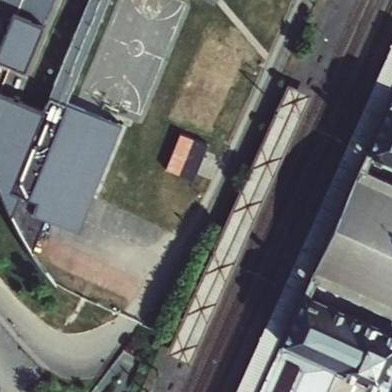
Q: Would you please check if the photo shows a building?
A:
Yes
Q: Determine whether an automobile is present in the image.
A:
No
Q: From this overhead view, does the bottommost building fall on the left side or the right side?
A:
left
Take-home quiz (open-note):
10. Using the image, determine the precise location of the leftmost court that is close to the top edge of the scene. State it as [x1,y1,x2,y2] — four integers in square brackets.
[80,0,195,132]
